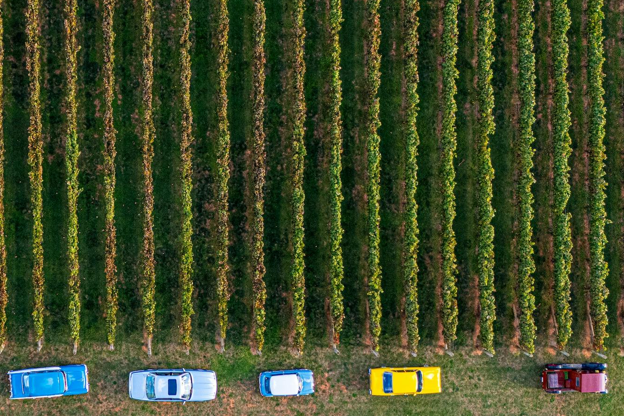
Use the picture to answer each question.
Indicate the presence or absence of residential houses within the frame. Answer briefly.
No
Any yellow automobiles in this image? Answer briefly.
Yes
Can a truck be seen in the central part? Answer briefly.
No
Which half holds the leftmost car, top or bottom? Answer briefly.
bottom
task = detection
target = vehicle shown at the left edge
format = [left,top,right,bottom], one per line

[6,364,90,400]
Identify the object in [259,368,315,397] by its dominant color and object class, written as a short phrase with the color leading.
white car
